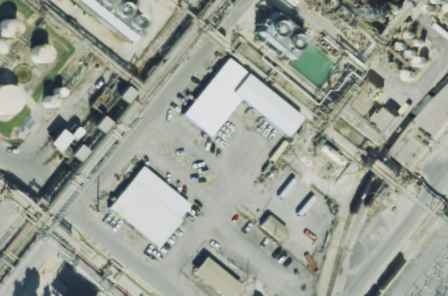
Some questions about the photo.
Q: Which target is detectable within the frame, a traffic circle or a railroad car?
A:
railroad car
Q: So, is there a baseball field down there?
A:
No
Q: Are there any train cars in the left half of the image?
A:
No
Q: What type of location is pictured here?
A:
industrial area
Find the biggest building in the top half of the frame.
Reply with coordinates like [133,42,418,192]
[180,57,305,140]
